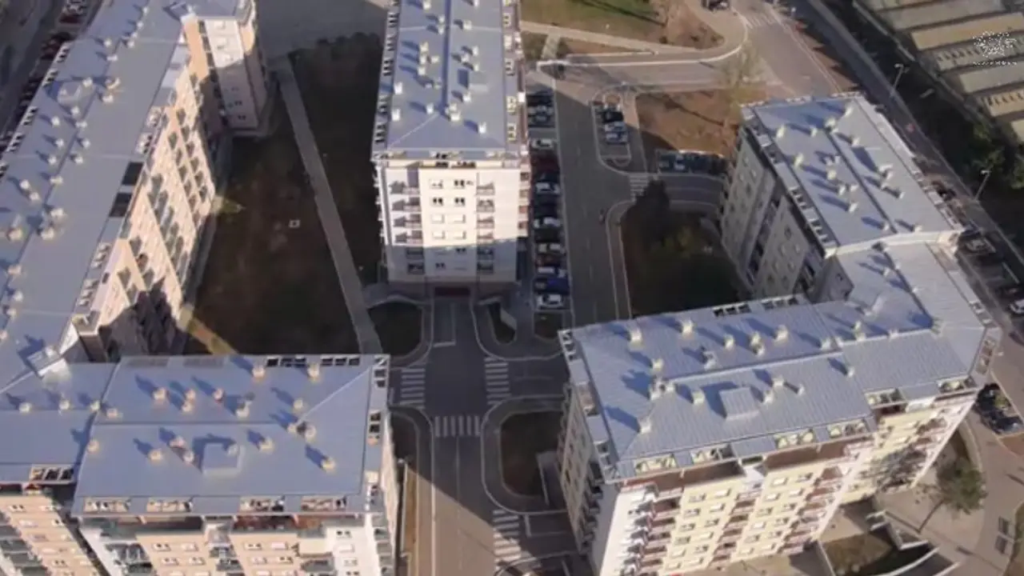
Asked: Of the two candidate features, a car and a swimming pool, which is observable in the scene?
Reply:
car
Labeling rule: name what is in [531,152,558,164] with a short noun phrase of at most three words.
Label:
vehicle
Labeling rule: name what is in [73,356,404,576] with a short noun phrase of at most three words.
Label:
building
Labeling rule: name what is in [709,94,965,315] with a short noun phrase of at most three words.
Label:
building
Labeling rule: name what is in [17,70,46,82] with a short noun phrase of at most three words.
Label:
vehicle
